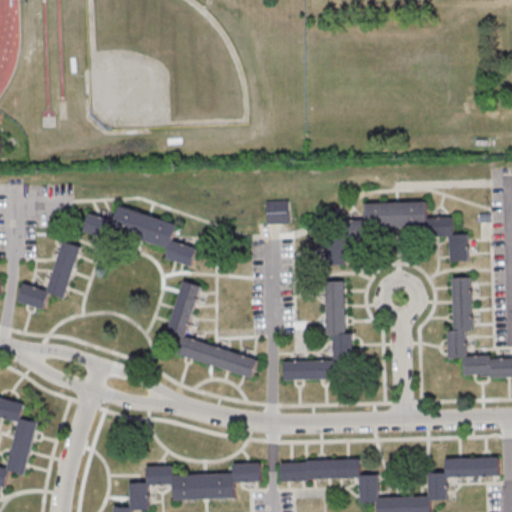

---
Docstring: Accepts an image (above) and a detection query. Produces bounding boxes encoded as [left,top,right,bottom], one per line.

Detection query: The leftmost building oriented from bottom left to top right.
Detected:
[18,242,80,309]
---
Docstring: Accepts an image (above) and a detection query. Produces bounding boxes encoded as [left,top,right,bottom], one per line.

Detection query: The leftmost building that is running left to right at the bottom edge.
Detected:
[114,461,261,512]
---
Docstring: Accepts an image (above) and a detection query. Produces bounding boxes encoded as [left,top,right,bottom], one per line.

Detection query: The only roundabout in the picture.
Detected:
[374,269,428,334]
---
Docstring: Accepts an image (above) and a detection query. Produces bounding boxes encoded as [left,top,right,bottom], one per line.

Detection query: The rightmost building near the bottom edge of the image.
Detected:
[280,456,500,512]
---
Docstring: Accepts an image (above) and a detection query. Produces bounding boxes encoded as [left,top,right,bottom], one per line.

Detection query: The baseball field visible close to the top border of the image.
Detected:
[90,0,248,128]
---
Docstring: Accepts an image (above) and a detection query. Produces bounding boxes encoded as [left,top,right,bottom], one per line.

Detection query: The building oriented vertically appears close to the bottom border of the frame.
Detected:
[0,394,38,486]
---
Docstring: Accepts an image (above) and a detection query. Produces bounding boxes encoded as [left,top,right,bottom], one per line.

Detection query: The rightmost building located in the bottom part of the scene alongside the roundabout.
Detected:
[448,277,512,378]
